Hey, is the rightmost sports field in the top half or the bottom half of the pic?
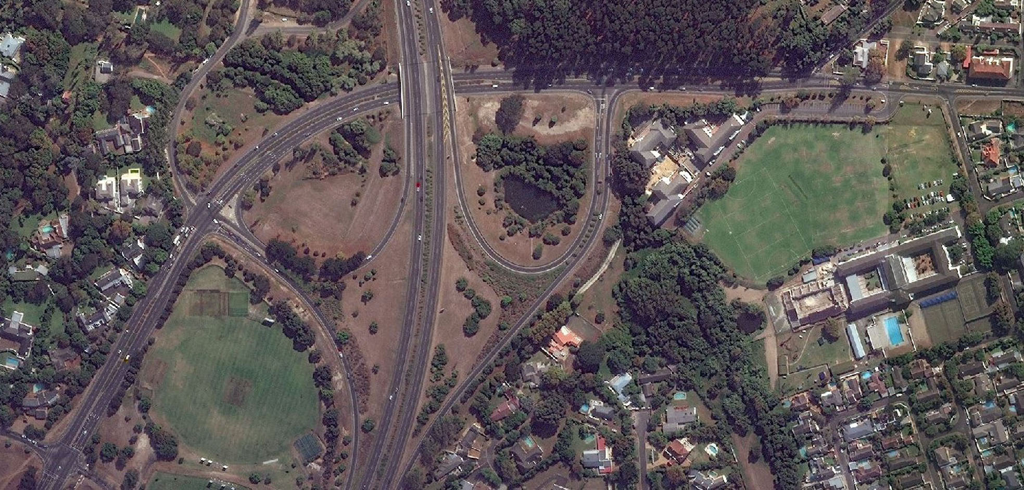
top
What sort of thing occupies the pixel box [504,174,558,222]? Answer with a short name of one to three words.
pond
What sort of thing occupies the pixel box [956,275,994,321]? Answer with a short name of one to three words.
tennis court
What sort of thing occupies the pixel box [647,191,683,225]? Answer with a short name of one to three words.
building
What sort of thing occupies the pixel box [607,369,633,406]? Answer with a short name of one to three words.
house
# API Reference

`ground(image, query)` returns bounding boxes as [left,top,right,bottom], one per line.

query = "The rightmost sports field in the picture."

[888,101,960,233]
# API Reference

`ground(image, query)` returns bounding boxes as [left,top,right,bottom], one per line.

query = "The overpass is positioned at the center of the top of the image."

[398,60,456,119]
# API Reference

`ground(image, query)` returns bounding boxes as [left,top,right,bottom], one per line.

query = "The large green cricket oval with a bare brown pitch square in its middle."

[139,264,320,465]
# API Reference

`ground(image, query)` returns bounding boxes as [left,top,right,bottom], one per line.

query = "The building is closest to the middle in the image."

[550,326,581,359]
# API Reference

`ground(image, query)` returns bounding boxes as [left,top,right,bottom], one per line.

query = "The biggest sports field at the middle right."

[697,123,891,285]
